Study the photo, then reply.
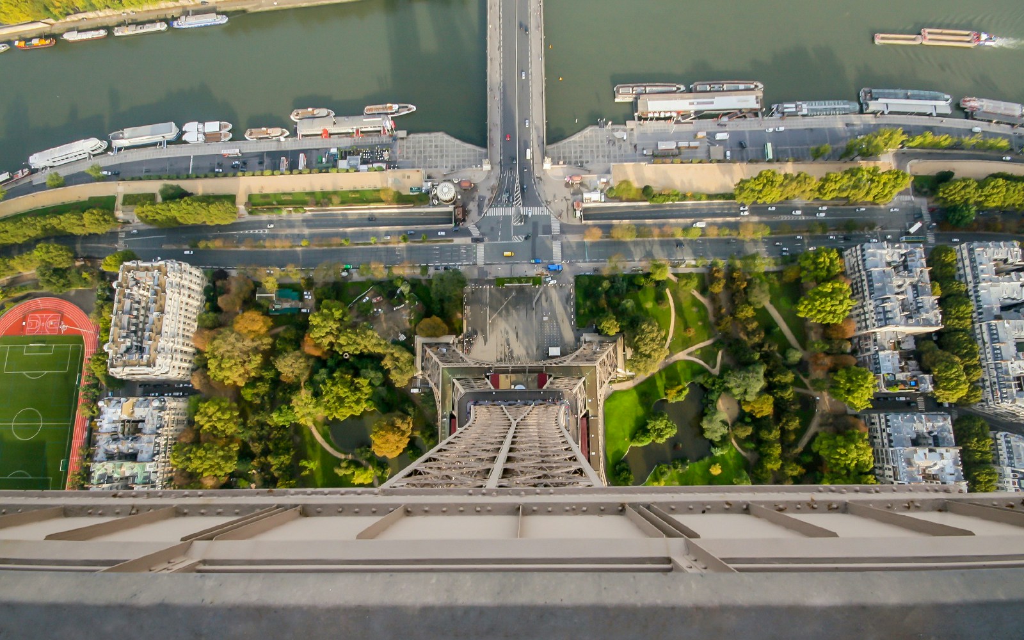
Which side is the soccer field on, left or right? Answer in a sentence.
You can find the soccer field on the left side of the picture.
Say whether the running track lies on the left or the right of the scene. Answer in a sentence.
The running track sits on the left side.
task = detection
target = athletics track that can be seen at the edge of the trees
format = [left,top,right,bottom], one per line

[0,301,104,492]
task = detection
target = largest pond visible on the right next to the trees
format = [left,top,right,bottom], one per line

[622,382,711,488]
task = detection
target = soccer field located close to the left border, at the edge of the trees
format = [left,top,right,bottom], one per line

[0,338,91,492]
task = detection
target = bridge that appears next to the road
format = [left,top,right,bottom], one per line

[487,0,547,178]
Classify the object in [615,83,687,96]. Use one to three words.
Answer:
boat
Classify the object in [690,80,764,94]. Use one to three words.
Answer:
boat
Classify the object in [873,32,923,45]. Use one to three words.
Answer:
ship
